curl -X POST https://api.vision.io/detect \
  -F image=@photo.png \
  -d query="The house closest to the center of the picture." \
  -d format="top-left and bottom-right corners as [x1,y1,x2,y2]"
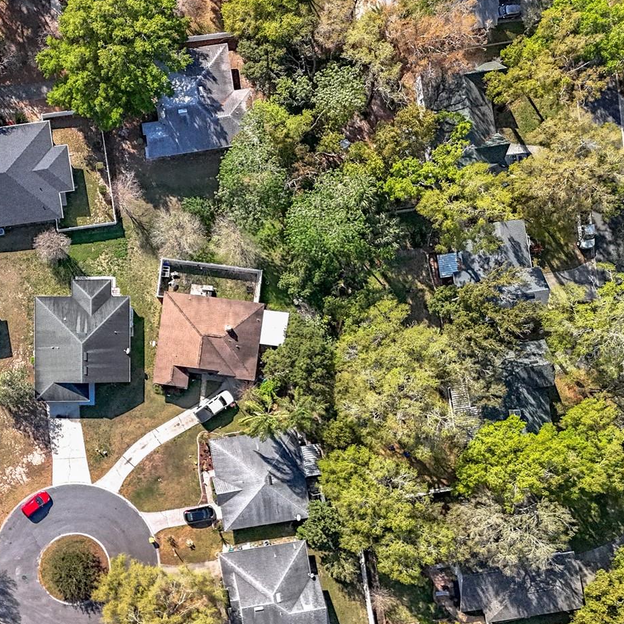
[153,291,265,389]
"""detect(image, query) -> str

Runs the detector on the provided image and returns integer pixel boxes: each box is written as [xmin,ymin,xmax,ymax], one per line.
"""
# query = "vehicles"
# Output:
[192,389,237,425]
[183,506,216,522]
[496,2,520,20]
[21,491,53,516]
[576,216,597,251]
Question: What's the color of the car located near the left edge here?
red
